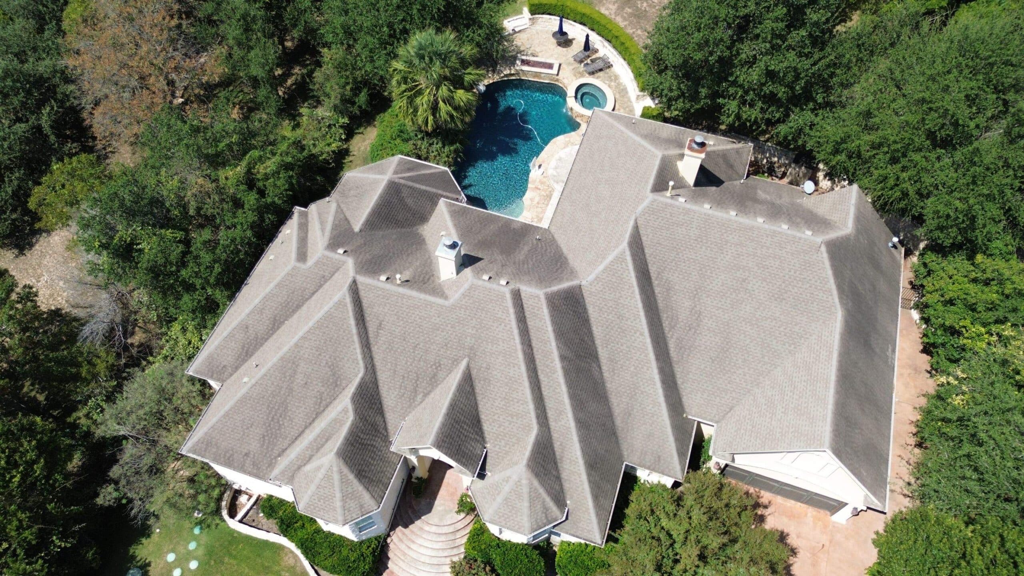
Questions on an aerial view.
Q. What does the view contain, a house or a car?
house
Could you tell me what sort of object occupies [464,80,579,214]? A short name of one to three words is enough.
swimming pool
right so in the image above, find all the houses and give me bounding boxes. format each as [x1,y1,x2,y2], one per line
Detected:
[179,106,906,553]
